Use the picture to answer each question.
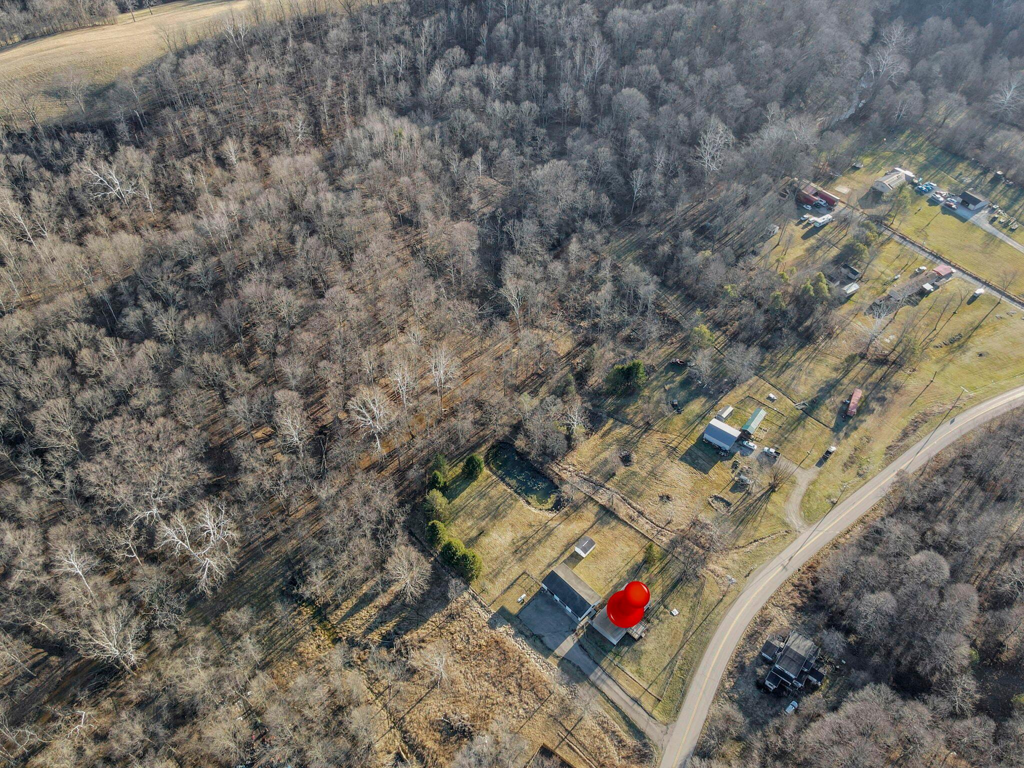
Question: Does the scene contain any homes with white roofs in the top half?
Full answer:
Yes, you'll find a home with a white roof in the top half.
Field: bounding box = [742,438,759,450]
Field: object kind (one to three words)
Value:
vehicle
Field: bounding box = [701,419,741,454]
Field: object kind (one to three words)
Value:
barn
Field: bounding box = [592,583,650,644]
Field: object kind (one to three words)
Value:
house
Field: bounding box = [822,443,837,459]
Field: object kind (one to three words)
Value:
vehicle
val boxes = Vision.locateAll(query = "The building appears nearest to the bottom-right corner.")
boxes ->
[759,631,825,690]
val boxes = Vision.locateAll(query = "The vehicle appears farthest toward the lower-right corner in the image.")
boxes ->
[784,696,802,718]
